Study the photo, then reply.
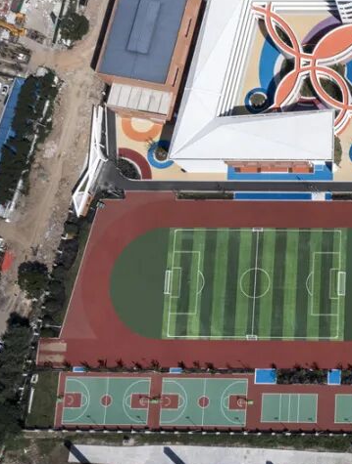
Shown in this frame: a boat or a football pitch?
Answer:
football pitch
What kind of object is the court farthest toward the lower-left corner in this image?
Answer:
basketball court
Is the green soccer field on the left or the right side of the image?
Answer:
right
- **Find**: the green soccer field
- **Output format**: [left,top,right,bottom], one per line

[162,228,347,340]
